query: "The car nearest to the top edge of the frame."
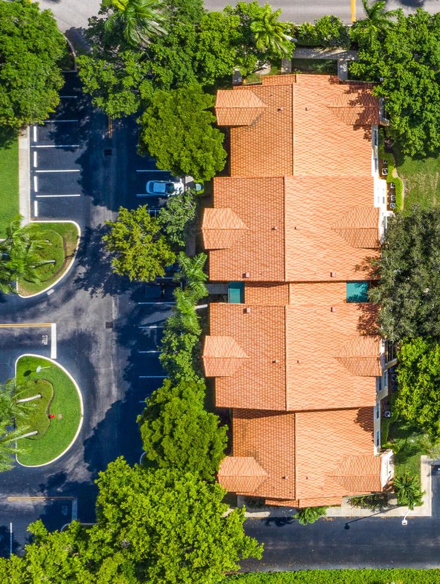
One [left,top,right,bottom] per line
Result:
[146,179,185,197]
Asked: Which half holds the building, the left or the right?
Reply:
right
